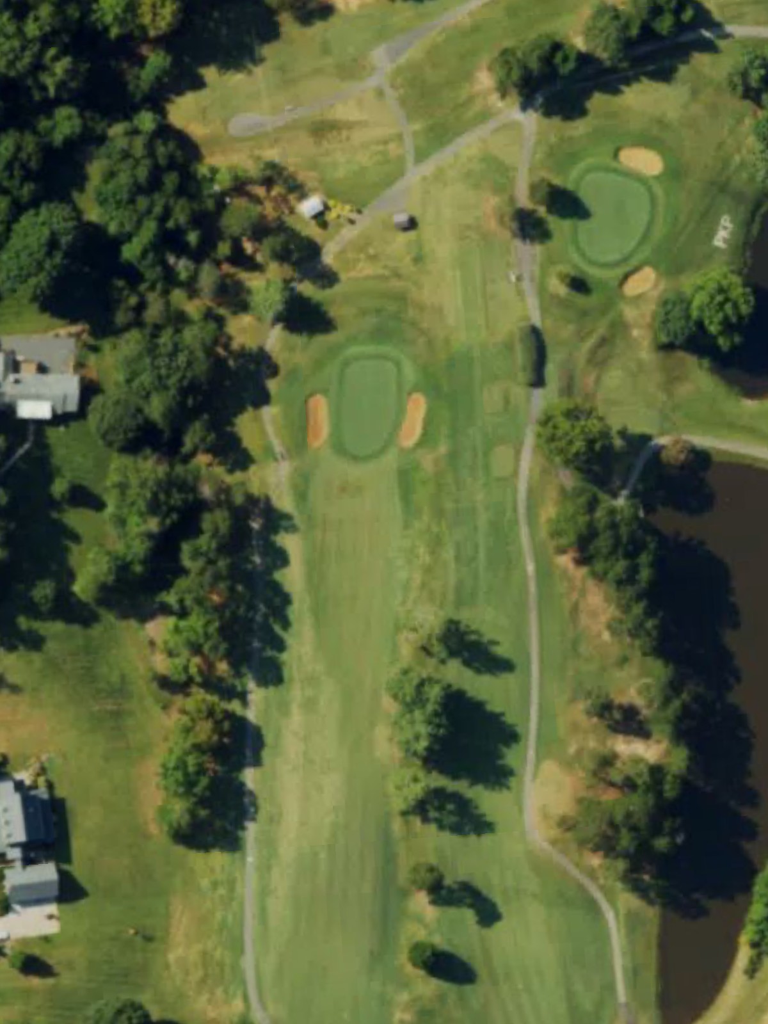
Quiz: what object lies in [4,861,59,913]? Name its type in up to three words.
building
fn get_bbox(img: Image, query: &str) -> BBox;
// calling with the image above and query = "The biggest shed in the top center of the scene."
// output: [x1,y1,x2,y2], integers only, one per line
[298,193,326,219]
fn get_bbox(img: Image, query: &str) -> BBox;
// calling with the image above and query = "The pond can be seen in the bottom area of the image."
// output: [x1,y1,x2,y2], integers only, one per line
[644,463,768,1024]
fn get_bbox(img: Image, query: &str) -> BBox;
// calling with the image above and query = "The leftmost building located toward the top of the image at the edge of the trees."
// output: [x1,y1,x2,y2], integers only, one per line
[0,350,80,419]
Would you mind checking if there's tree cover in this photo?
Yes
